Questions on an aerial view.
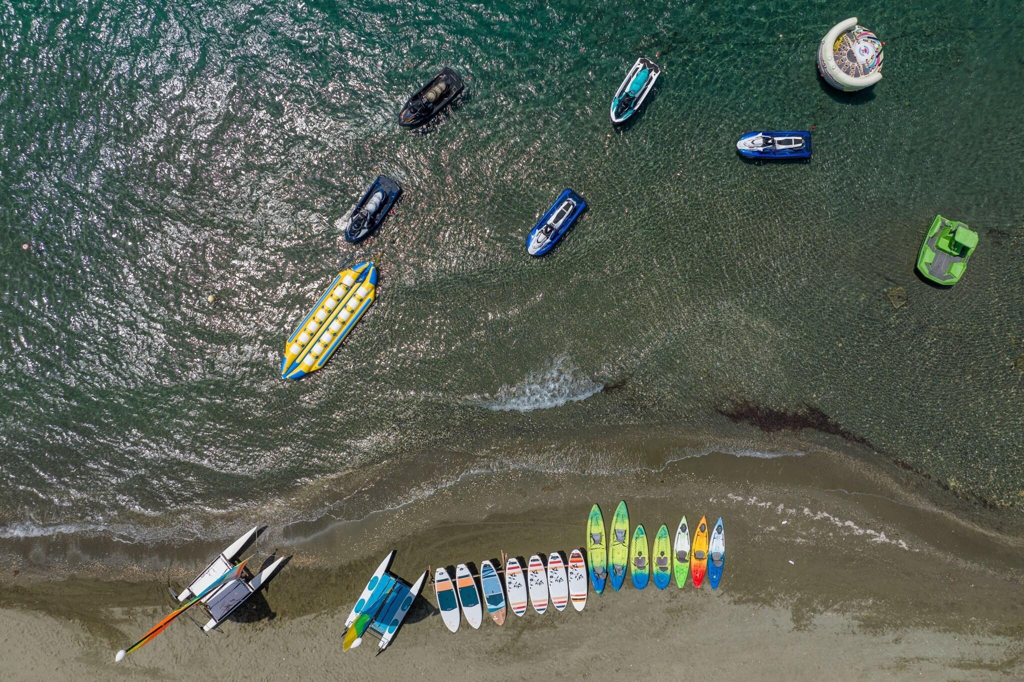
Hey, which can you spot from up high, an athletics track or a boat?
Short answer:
boat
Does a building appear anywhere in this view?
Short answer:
No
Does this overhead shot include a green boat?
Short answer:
Yes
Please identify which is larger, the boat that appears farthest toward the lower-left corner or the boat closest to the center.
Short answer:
the boat that appears farthest toward the lower-left corner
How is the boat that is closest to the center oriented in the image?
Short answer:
diagonally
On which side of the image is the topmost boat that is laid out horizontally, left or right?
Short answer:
right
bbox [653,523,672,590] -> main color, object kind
green boat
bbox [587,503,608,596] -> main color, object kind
green boat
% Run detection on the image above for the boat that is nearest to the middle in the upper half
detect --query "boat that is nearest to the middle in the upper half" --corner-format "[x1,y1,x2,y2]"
[530,191,586,255]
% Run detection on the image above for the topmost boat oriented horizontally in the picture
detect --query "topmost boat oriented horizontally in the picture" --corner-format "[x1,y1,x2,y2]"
[736,131,811,160]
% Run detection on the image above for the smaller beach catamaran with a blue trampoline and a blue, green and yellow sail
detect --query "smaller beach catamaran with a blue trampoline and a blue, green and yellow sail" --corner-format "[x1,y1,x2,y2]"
[337,548,426,662]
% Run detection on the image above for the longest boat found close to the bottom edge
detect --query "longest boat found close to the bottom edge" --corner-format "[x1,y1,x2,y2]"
[113,524,286,663]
